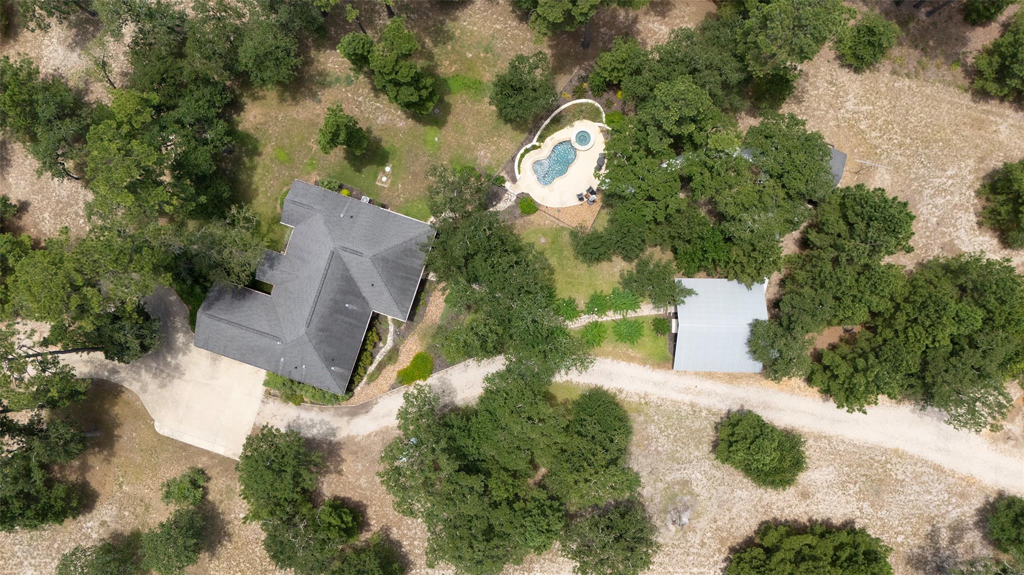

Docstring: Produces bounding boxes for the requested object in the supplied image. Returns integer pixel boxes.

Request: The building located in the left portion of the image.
[193,178,436,397]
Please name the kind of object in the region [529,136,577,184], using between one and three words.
swimming pool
